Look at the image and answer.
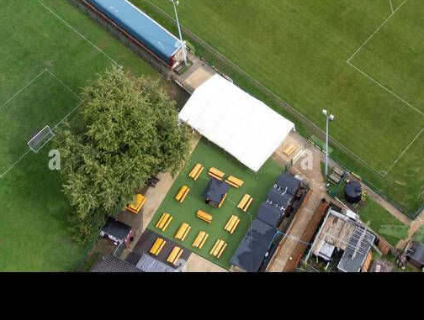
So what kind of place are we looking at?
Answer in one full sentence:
The area seen from above is a sports ground.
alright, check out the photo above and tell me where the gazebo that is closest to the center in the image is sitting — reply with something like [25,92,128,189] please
[201,177,230,210]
